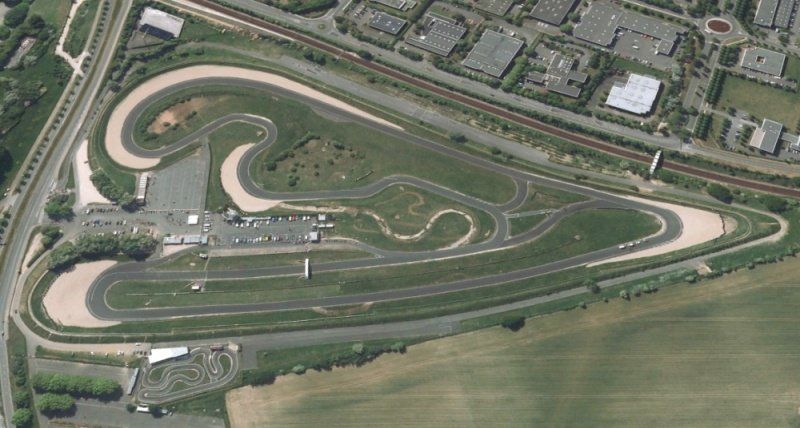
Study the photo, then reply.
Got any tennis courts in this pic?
No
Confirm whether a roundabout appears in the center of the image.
No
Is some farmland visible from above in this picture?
Yes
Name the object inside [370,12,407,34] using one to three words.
building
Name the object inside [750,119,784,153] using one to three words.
building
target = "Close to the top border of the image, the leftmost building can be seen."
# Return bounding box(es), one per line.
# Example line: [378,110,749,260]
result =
[138,6,184,40]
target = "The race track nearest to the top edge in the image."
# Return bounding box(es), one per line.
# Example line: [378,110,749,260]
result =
[43,65,737,326]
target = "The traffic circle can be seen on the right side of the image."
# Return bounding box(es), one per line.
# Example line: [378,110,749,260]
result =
[695,11,746,45]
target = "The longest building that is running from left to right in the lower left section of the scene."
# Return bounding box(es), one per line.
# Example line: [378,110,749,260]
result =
[148,347,188,364]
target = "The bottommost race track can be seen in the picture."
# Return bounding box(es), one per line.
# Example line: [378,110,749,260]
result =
[138,347,239,402]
